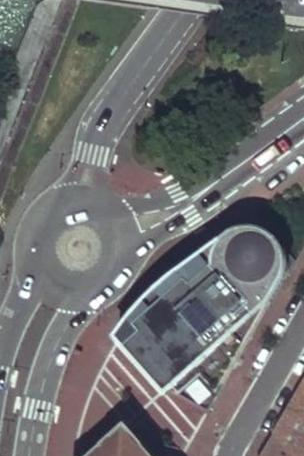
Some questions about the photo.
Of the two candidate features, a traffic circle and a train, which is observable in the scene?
traffic circle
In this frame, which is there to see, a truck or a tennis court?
truck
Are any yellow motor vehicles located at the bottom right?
No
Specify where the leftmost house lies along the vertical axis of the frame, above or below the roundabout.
below it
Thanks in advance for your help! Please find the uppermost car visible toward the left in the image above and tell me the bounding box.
[96,106,113,131]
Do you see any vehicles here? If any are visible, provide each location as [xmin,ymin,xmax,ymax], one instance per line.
[284,295,302,316]
[86,284,115,312]
[200,190,222,208]
[18,275,36,300]
[68,310,90,329]
[283,156,304,174]
[290,354,304,378]
[96,106,113,131]
[249,134,296,173]
[270,316,290,337]
[111,265,134,288]
[66,212,89,224]
[135,238,157,258]
[252,346,270,370]
[54,343,70,367]
[166,213,186,231]
[265,171,288,190]
[261,410,278,432]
